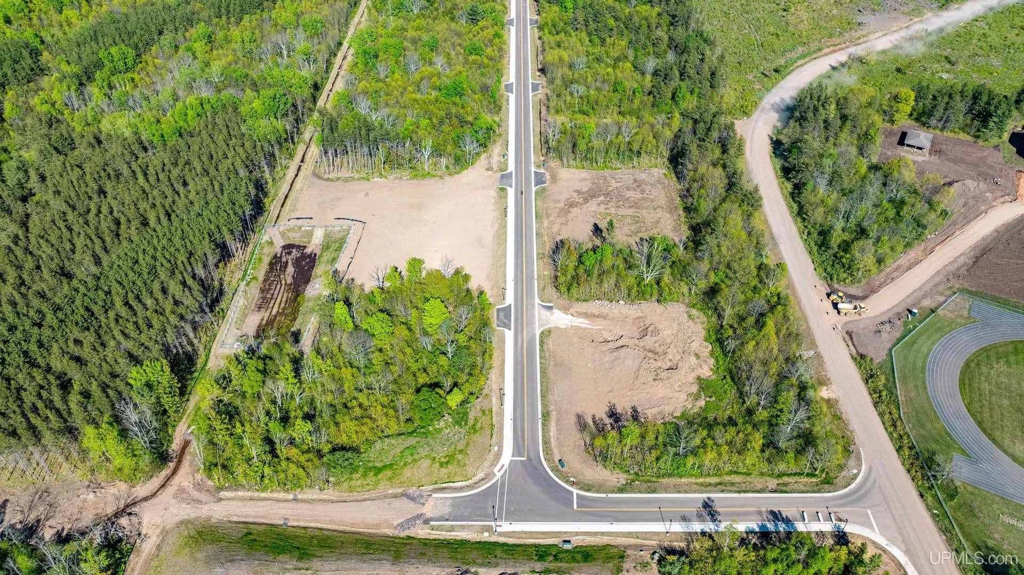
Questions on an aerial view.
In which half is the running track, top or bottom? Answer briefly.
bottom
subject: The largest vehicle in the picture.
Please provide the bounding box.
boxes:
[839,301,871,314]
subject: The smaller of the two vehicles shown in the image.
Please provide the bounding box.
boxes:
[827,291,852,303]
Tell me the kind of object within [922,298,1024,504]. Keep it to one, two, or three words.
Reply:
running track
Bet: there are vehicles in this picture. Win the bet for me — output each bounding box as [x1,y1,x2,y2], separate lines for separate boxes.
[827,291,852,303]
[839,301,871,314]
